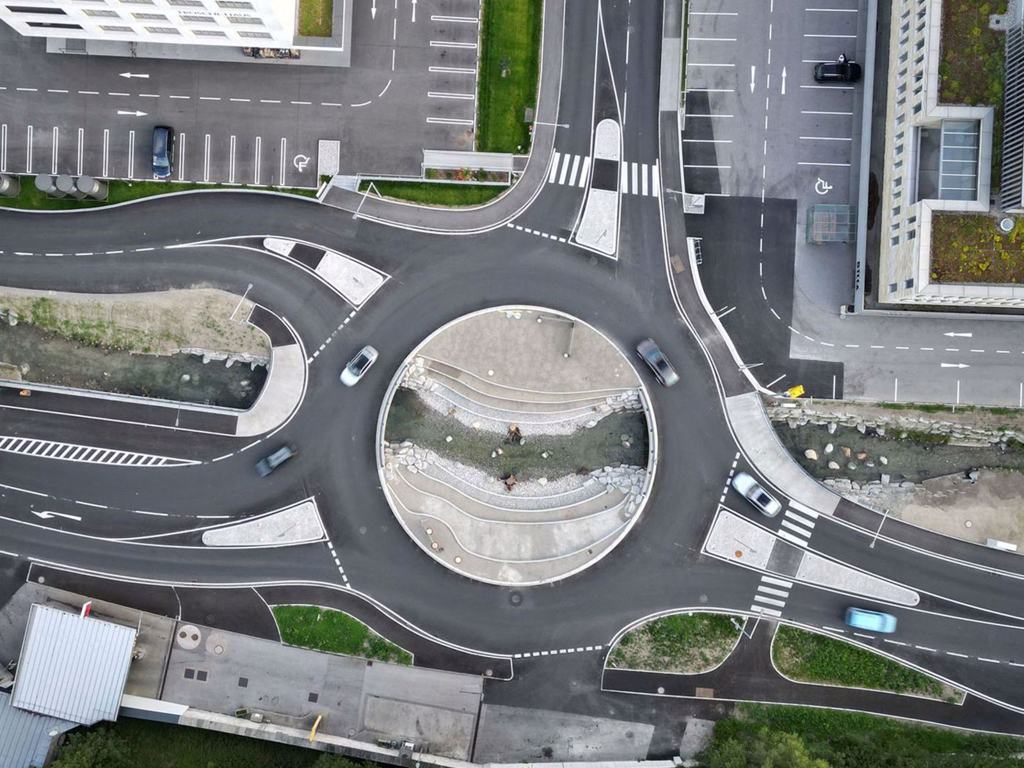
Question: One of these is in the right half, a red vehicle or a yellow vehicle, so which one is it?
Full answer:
It is a yellow vehicle that can be seen in the right half.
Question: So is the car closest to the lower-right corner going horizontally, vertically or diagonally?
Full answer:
I'd say the car closest to the lower-right corner is aligned horizontally in the picture.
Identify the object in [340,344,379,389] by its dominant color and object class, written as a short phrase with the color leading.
white car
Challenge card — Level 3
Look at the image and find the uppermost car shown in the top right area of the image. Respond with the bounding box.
[812,52,861,86]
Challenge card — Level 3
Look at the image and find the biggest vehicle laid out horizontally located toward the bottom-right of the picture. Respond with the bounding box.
[846,608,896,634]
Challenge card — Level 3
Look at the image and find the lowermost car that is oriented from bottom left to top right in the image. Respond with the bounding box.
[254,444,298,479]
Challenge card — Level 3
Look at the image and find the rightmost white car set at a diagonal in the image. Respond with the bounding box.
[734,473,781,517]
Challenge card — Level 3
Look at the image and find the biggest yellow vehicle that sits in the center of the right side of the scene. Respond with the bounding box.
[781,381,809,402]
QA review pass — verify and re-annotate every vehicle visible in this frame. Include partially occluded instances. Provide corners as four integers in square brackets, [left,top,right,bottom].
[147,127,173,177]
[781,381,809,402]
[734,473,781,517]
[254,444,298,479]
[846,608,896,634]
[638,340,678,386]
[340,344,379,389]
[812,52,861,86]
